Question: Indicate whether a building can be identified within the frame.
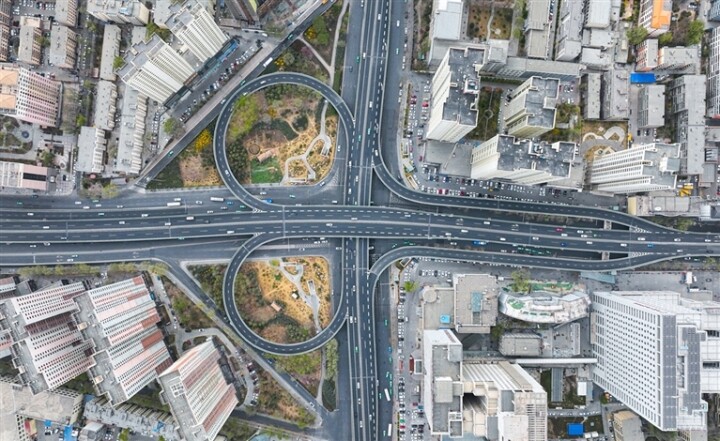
Yes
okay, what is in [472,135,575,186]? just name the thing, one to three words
building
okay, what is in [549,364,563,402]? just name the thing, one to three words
shed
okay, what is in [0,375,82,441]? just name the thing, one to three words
building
